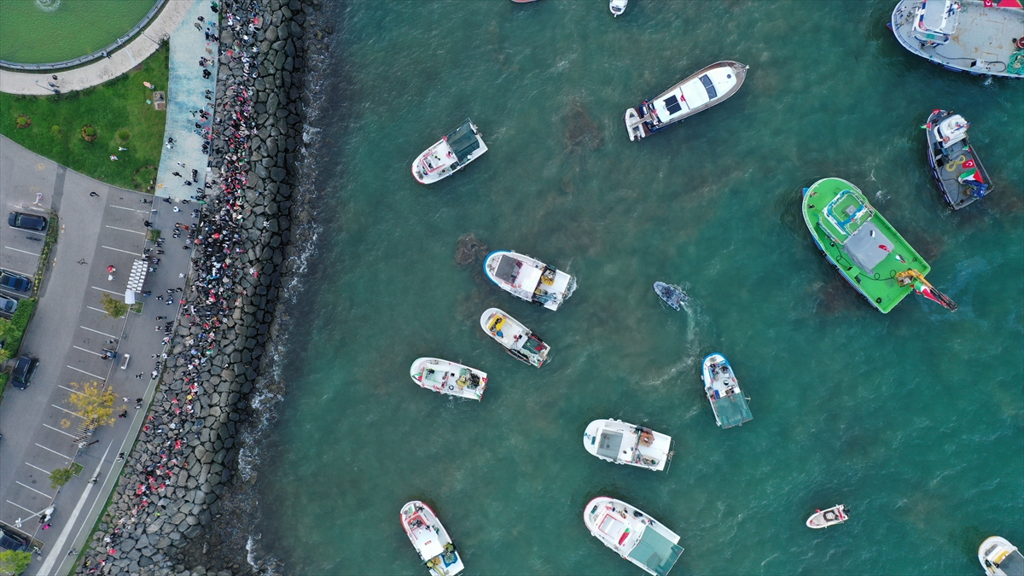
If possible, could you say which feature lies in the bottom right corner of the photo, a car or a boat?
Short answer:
boat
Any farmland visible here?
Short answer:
No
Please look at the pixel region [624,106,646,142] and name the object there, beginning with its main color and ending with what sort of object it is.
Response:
white boat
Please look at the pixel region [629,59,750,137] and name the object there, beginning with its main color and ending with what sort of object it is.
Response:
white boat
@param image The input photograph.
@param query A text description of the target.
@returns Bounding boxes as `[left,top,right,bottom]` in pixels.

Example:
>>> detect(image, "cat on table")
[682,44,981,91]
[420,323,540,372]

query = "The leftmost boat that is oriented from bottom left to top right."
[411,118,488,185]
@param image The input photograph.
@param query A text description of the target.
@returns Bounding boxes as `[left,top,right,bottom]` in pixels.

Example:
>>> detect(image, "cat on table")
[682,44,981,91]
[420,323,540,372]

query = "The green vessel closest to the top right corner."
[798,177,953,314]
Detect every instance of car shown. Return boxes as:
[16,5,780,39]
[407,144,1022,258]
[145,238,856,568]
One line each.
[10,351,42,393]
[0,295,25,316]
[9,211,51,234]
[0,524,32,554]
[0,270,37,293]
